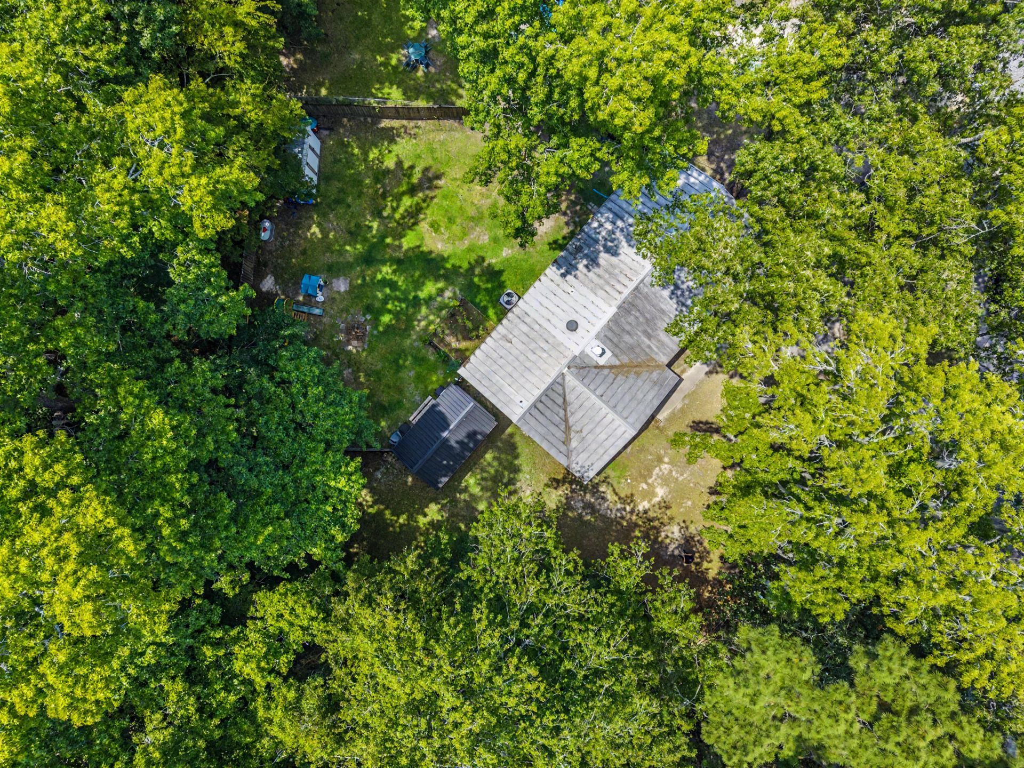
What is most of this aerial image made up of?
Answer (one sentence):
The scene is dominated by trees.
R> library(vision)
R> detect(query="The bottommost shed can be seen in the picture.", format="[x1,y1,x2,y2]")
[392,381,499,491]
